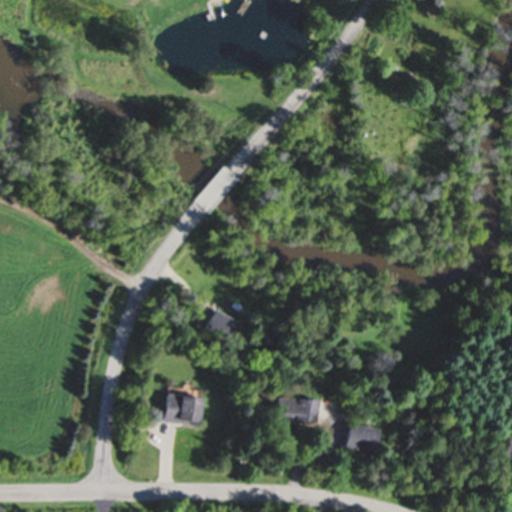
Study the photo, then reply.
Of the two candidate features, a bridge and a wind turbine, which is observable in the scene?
bridge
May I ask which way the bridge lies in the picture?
at an angle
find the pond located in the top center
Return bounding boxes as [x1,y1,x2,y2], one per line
[156,0,315,88]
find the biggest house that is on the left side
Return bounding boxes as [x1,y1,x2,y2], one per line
[166,394,205,424]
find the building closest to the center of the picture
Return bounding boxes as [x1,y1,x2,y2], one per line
[208,308,234,334]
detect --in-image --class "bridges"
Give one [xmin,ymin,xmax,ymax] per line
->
[188,166,238,222]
